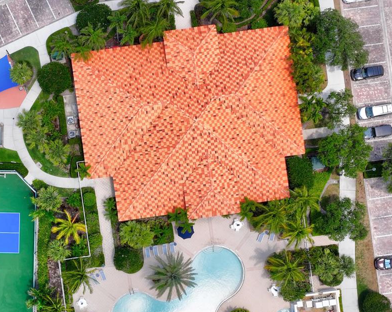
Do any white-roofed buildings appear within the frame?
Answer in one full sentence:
No, the picture doesn't show any white-roofed building.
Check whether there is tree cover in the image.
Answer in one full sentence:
Yes, there's tree cover in this view.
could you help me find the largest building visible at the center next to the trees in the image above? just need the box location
[71,24,306,222]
